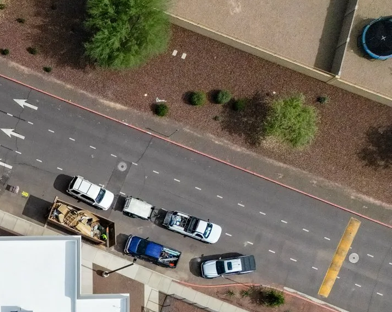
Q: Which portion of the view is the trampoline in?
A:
top right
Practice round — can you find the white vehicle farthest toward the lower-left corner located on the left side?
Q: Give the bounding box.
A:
[63,177,115,211]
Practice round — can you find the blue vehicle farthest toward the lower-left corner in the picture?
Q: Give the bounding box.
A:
[123,237,181,270]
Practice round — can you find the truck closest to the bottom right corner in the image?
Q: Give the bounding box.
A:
[199,253,257,279]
